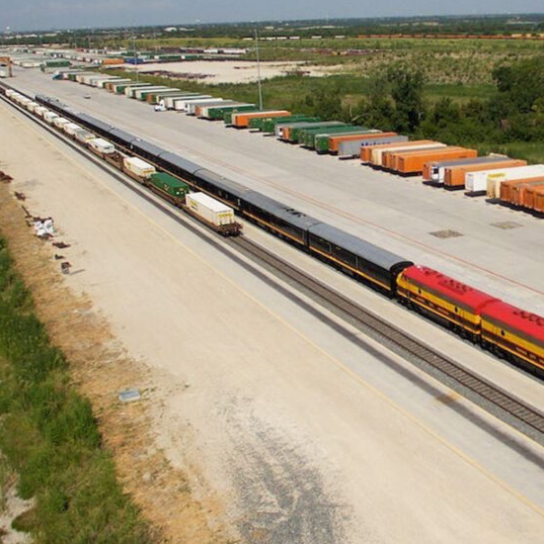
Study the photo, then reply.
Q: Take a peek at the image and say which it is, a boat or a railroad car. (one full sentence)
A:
It is a railroad car that can be seen here.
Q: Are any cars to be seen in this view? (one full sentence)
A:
Yes, a car is visible in the scene.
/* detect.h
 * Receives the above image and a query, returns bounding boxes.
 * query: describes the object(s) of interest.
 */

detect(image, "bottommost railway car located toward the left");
[187,200,247,239]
